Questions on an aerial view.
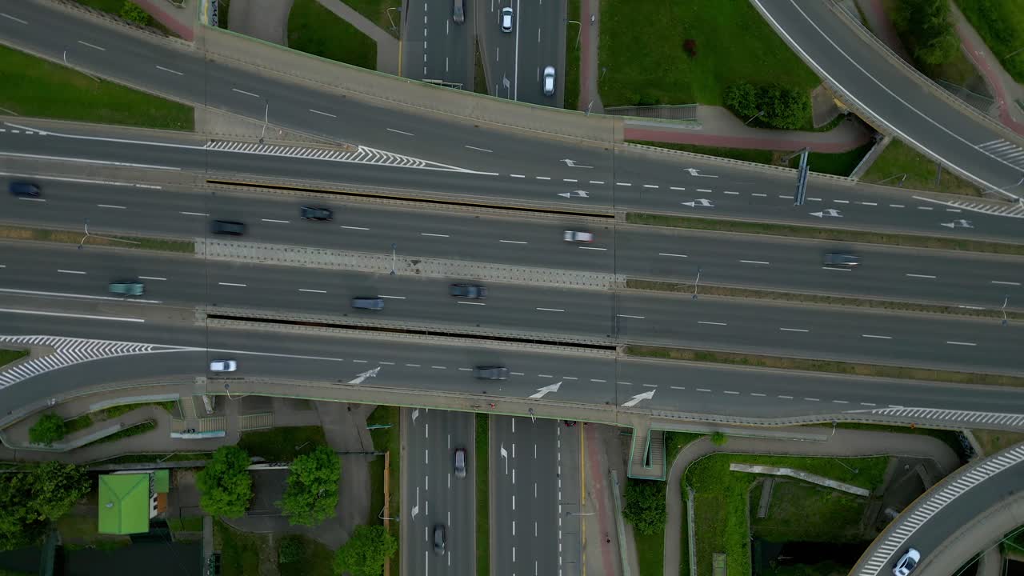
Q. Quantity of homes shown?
one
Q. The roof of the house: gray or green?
green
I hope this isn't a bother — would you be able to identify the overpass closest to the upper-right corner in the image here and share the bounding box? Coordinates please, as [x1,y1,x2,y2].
[746,0,1024,214]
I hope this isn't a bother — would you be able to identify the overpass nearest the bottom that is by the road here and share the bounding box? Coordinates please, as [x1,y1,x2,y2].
[844,438,1024,576]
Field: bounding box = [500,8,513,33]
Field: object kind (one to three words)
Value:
vehicle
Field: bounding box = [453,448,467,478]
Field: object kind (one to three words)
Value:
car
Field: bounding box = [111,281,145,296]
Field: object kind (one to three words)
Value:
car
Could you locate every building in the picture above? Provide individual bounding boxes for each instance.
[98,469,174,535]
